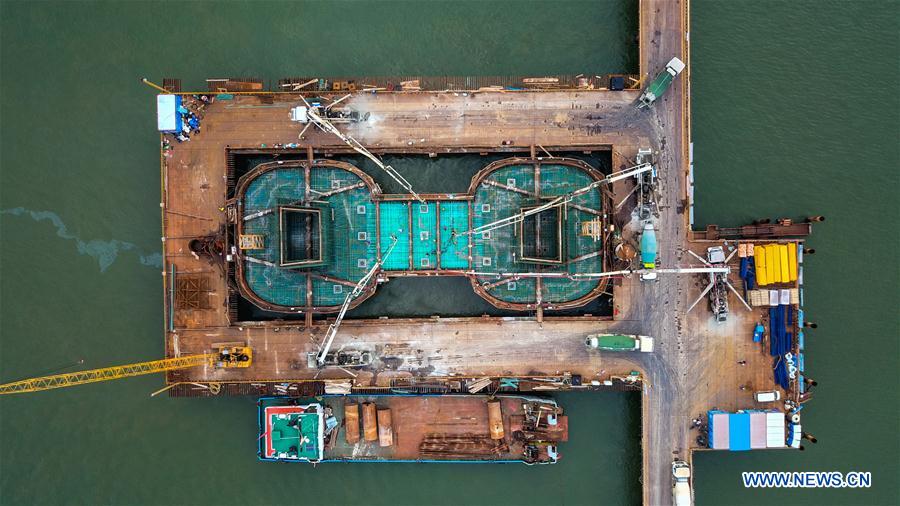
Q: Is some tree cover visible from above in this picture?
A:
No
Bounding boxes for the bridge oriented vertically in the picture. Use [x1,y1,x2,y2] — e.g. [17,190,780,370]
[631,0,696,506]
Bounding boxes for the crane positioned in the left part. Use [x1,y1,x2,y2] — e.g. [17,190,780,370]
[0,343,255,396]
